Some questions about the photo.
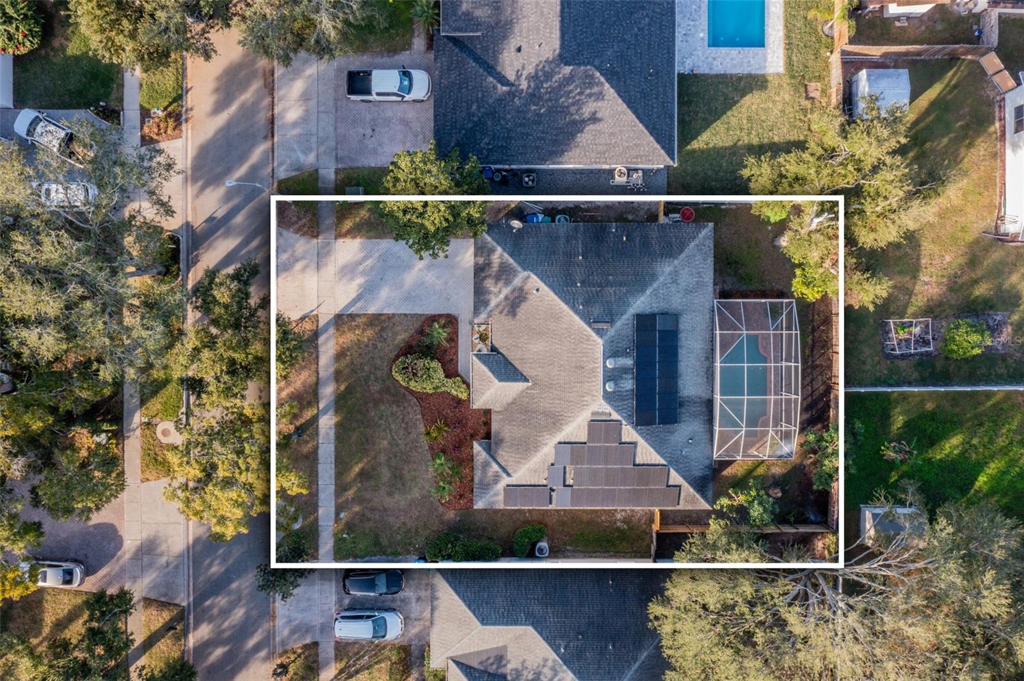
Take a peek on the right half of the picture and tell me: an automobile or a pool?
pool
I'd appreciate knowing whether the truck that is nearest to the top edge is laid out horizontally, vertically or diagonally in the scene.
horizontally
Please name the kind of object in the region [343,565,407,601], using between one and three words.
car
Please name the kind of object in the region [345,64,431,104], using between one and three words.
truck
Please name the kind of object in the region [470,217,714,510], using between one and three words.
house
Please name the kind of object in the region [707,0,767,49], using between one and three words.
swimming pool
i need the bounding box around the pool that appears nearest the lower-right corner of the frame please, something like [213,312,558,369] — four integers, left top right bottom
[716,332,771,442]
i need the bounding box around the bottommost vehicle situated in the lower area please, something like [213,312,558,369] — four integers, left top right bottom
[335,607,405,646]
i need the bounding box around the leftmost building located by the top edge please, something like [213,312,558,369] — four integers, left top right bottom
[434,0,678,171]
